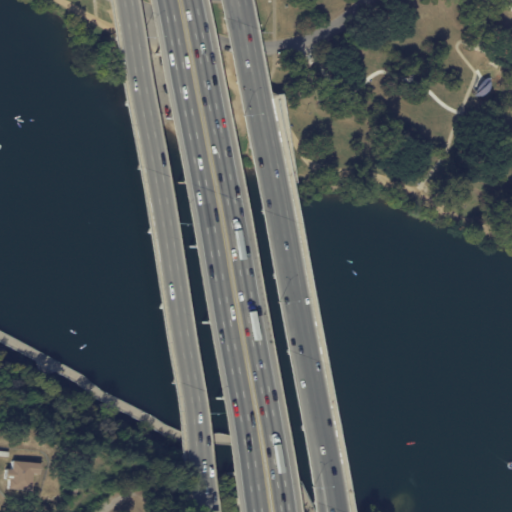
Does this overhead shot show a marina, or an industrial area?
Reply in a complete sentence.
This looks like a marina.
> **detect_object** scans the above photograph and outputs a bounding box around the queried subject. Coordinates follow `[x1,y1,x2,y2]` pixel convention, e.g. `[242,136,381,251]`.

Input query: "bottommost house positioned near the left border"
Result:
[2,461,42,490]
